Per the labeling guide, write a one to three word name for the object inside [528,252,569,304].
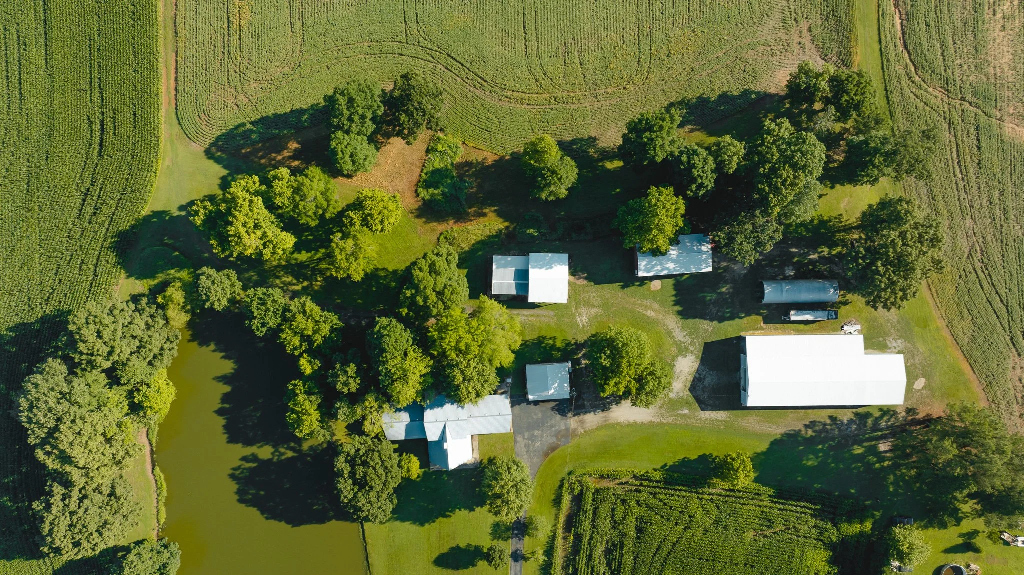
barn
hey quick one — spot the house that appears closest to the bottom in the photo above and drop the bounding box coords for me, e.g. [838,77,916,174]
[384,393,512,471]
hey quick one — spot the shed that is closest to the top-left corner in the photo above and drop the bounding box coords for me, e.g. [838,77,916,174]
[493,255,528,294]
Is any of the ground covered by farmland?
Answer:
Yes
